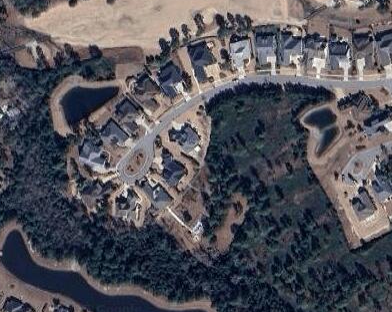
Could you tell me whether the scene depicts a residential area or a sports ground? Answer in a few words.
residential area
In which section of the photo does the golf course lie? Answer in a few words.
top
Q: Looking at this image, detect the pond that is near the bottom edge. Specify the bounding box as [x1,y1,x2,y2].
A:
[0,230,205,312]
